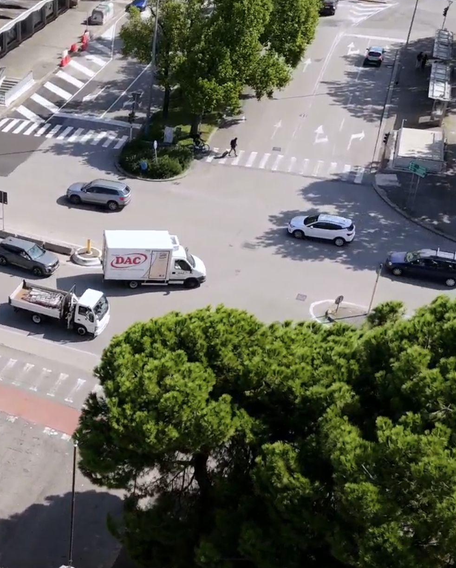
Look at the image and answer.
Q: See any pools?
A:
No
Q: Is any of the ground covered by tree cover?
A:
Yes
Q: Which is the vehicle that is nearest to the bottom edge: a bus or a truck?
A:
truck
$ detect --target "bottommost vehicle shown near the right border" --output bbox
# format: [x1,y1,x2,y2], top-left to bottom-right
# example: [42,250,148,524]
[385,246,456,283]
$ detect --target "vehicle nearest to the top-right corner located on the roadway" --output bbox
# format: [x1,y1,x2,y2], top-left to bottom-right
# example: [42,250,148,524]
[365,42,390,65]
